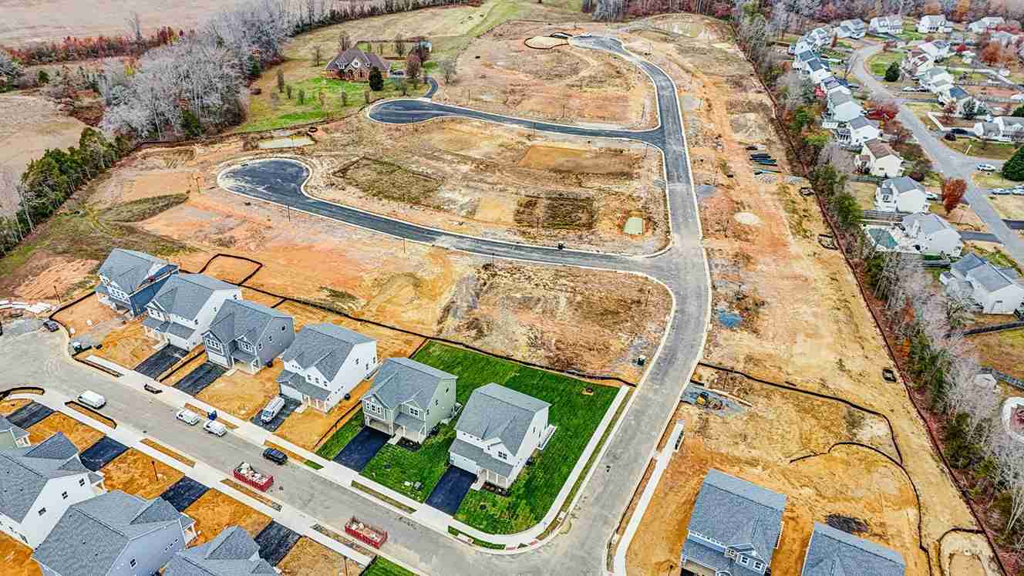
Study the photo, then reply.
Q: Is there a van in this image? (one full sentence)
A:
Yes, I can see a van in this picture.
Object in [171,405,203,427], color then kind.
white vehicle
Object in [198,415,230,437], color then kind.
white vehicle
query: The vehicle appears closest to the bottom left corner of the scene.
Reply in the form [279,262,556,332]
[75,388,105,409]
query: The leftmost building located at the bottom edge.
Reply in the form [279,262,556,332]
[0,428,117,557]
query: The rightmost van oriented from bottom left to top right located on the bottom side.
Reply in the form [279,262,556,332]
[256,396,287,425]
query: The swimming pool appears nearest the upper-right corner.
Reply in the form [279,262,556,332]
[863,224,920,251]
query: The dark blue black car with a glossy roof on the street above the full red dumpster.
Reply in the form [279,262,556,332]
[260,448,289,467]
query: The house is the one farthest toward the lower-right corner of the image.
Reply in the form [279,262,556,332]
[816,525,926,576]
